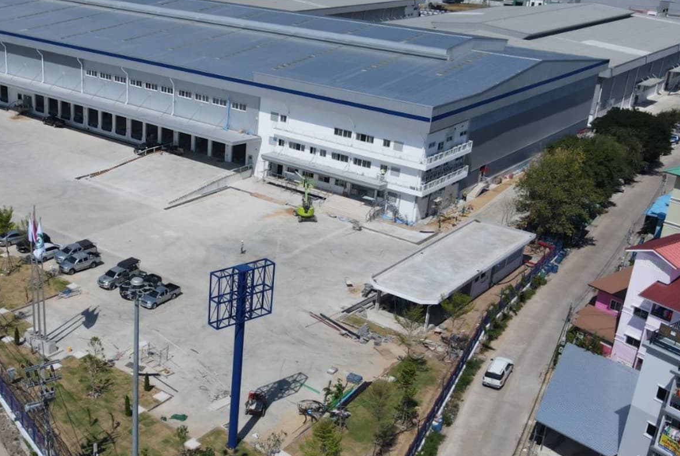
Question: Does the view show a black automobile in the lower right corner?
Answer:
No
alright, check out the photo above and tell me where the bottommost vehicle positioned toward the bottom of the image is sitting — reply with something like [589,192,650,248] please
[243,385,277,413]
